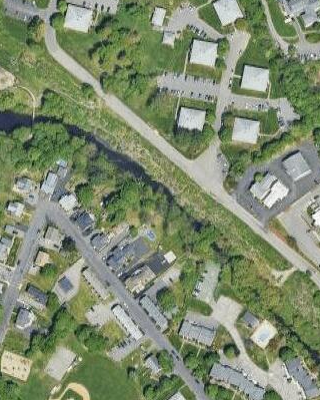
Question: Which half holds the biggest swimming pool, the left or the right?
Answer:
right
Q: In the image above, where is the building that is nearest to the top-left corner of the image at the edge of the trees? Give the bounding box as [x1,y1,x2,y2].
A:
[62,3,93,32]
